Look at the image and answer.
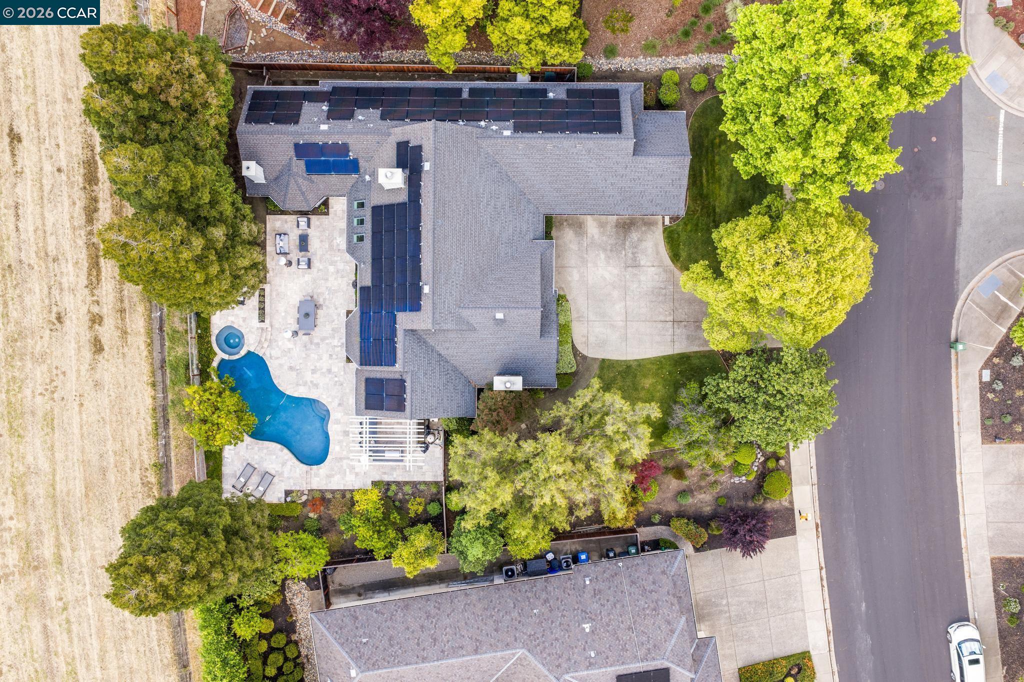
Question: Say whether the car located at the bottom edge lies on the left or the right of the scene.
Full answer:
It is on the right.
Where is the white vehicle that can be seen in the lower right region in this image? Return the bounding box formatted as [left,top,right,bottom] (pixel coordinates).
[943,622,984,682]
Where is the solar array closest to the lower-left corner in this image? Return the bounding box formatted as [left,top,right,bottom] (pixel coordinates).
[365,379,408,414]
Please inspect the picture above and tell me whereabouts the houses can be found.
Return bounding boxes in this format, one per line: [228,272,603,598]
[309,544,725,682]
[236,79,691,420]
